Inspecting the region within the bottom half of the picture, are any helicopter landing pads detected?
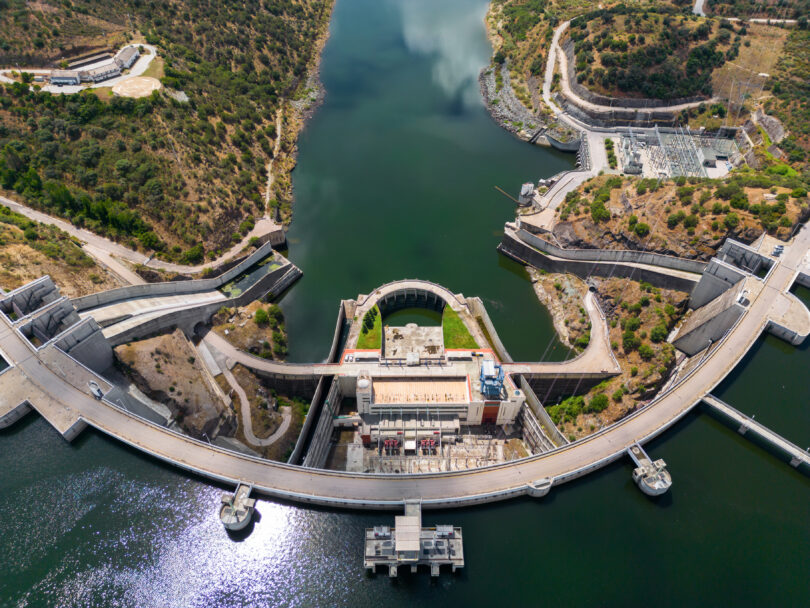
No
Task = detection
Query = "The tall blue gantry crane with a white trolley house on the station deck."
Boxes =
[480,355,508,397]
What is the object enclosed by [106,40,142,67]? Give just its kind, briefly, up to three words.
building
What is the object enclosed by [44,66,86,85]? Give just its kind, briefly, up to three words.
building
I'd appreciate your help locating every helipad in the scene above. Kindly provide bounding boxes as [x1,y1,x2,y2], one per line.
[110,75,162,100]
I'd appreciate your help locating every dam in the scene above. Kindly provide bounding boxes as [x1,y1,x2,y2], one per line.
[0,218,810,506]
